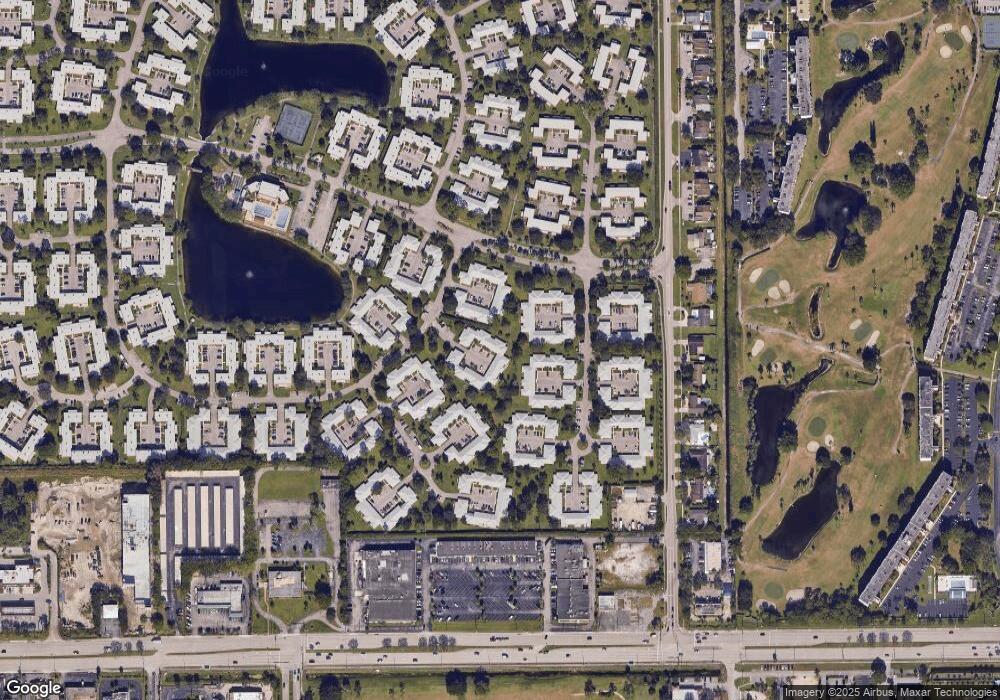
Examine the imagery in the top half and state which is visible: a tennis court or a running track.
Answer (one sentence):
There is a tennis court in the top half.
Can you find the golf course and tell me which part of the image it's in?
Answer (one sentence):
The golf course sits in the right section of the image.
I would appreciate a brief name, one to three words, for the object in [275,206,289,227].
swimming pool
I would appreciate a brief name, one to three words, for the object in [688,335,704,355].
house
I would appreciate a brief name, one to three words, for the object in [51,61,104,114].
building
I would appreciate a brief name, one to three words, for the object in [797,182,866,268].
pond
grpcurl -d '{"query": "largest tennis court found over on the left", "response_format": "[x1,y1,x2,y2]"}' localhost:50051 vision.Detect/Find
[272,103,312,144]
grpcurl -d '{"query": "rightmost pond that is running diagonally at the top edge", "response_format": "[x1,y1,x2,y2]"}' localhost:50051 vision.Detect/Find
[819,31,903,154]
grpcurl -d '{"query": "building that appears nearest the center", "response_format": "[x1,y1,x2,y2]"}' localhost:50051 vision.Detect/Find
[443,326,509,389]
